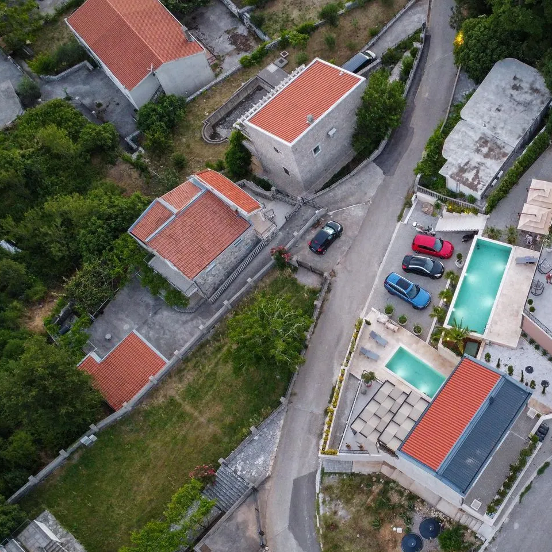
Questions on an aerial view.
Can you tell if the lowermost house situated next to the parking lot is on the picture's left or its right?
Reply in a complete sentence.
You can find the lowermost house situated next to the parking lot on the right side of the picture.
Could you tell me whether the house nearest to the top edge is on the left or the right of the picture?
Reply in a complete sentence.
It is on the left.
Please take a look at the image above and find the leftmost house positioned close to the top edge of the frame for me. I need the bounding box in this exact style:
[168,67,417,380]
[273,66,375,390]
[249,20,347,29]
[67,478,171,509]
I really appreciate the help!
[64,0,216,106]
